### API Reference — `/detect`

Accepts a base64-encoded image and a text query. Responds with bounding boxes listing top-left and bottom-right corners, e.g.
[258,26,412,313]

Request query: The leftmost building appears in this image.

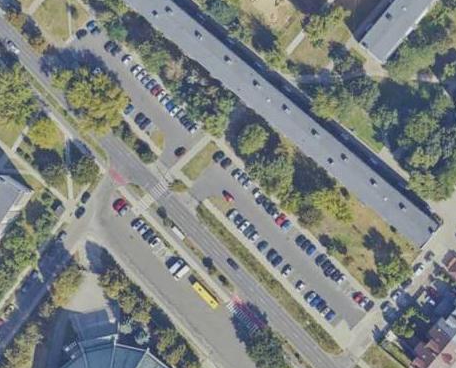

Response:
[0,173,32,229]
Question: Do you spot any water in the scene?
No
